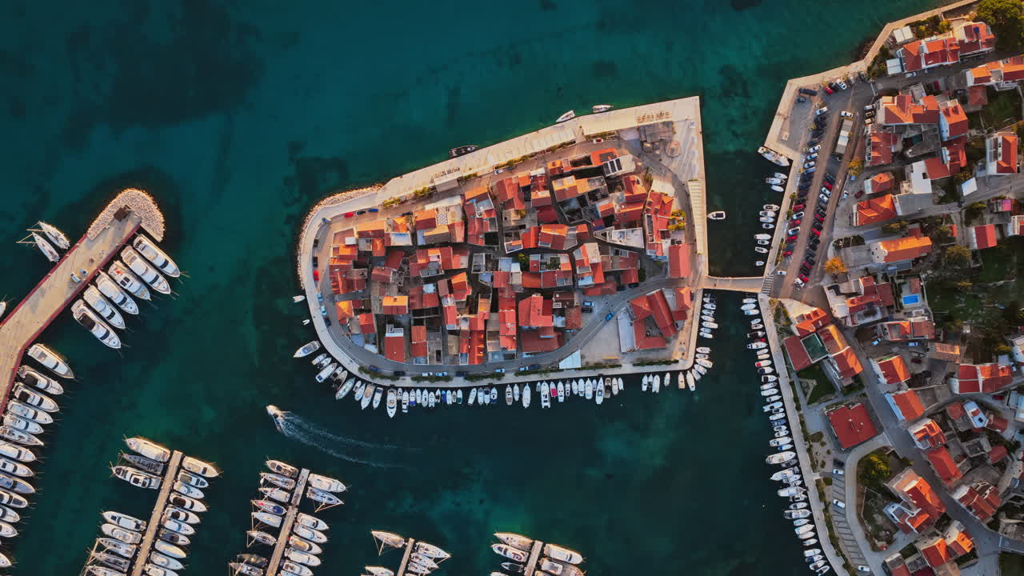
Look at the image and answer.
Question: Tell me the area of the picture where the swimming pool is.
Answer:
right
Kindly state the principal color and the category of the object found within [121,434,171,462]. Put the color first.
white boat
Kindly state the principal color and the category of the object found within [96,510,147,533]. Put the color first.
white boat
